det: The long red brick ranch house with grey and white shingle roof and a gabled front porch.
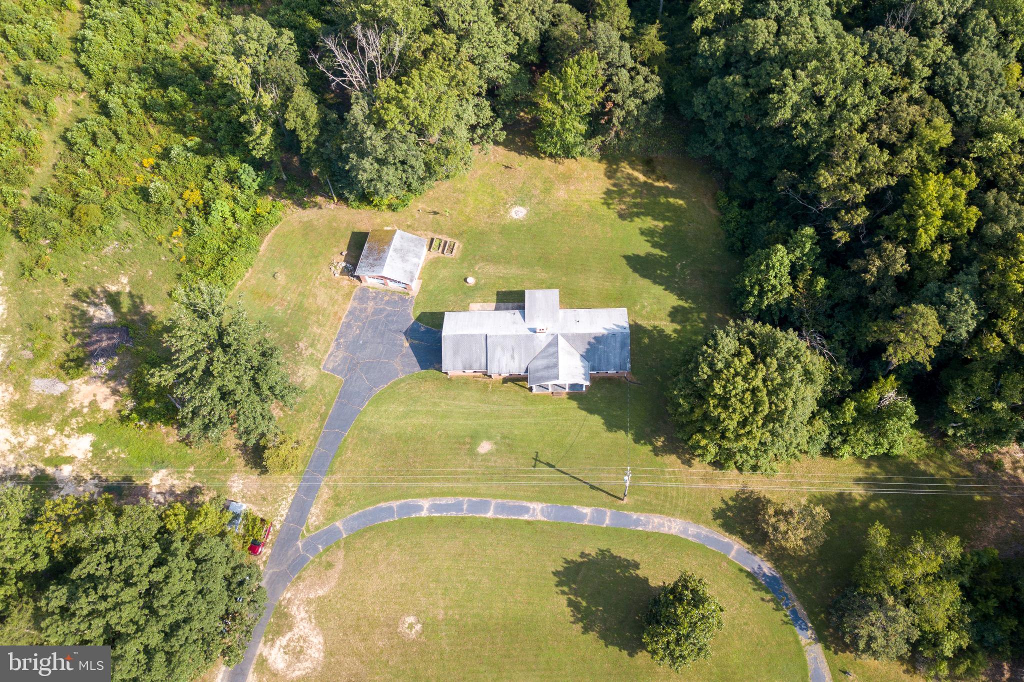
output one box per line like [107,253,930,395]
[441,289,632,400]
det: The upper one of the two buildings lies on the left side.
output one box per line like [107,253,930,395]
[354,227,428,292]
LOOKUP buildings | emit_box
[354,227,428,292]
[441,289,632,400]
